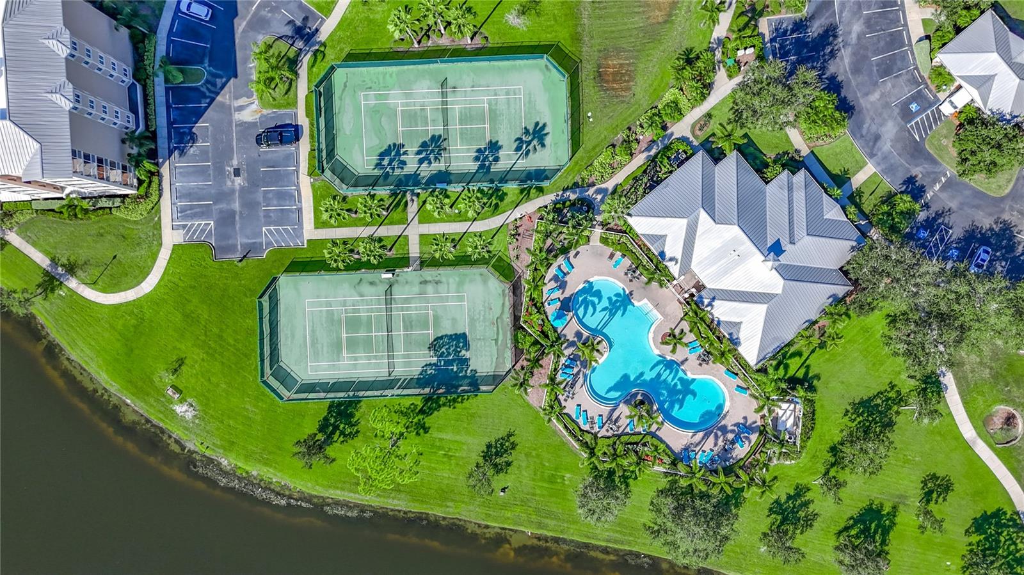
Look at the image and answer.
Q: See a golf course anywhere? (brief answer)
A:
No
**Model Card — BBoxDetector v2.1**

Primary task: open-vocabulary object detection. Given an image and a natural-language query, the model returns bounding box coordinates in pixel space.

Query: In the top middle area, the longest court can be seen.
[318,58,570,193]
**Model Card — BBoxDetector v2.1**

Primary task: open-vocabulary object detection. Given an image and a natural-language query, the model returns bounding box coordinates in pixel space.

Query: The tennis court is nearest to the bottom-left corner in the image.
[261,268,513,400]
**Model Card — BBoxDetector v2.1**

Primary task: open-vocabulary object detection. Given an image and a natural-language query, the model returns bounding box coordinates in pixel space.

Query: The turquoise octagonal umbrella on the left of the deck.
[550,309,569,328]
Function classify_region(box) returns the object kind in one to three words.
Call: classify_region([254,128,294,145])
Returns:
vehicle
